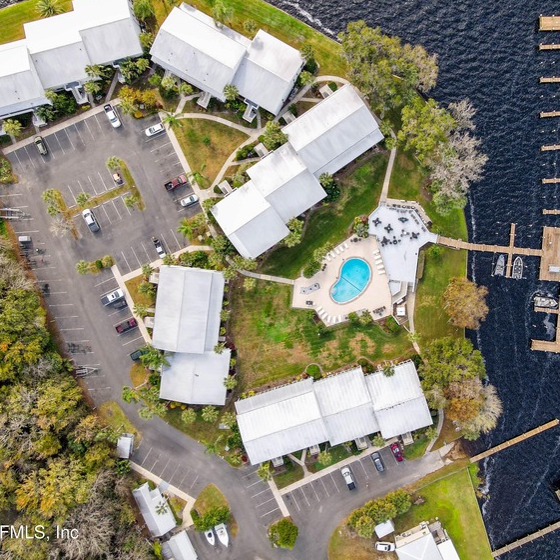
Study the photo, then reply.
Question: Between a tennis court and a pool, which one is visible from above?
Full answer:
Of the two, only a pool appears.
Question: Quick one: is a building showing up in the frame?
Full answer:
Yes, a building can be made out from above.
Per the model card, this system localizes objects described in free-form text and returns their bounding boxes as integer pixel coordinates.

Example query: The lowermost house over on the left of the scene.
[162,526,205,560]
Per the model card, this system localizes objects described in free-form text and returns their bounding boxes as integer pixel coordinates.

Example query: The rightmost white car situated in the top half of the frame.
[180,194,199,207]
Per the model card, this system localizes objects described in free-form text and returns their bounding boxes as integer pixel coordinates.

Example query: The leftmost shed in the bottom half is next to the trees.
[116,431,136,458]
